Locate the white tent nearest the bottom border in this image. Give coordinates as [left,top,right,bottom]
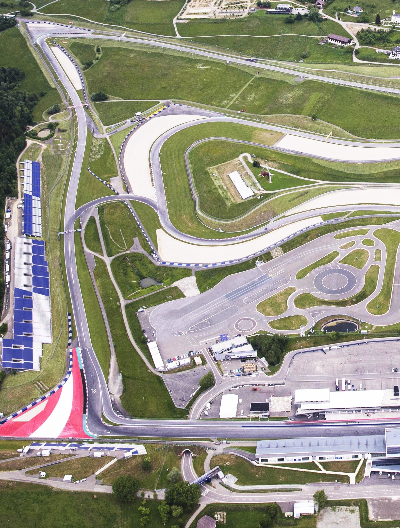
[219,393,239,418]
